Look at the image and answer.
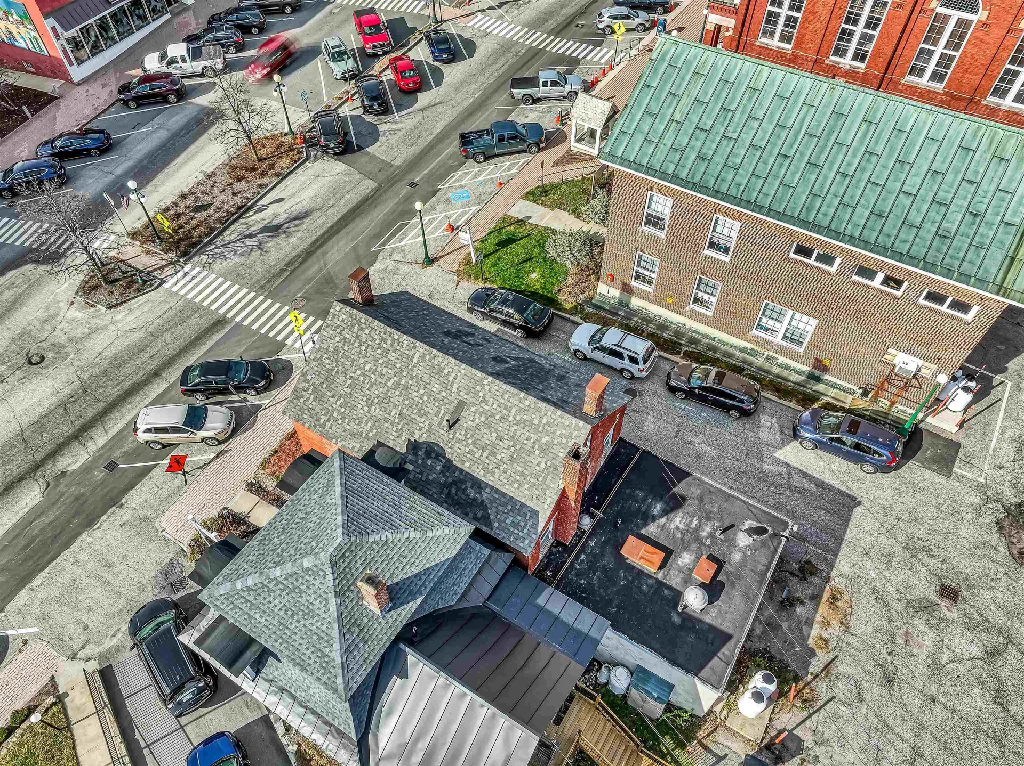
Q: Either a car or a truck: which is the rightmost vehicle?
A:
car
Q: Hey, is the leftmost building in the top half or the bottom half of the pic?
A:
top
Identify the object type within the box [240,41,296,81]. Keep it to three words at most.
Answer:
car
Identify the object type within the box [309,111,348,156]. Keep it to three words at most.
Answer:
car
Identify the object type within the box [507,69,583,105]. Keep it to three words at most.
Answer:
truck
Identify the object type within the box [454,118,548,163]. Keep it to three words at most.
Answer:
truck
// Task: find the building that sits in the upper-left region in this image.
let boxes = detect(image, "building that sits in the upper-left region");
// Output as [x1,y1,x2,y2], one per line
[0,0,190,83]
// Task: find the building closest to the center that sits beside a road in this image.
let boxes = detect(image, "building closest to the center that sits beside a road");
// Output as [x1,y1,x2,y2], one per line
[282,263,635,576]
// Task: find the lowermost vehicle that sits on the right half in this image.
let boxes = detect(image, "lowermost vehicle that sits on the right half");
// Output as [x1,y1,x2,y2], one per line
[792,407,909,477]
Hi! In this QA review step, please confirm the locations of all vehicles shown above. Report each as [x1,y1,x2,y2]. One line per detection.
[206,3,267,34]
[423,29,456,63]
[135,602,226,734]
[592,4,652,34]
[319,29,361,79]
[183,23,244,55]
[239,0,299,14]
[454,118,548,163]
[507,69,583,105]
[466,288,554,339]
[0,146,74,198]
[603,0,672,14]
[352,7,393,55]
[792,407,909,477]
[141,43,227,77]
[567,323,663,381]
[387,56,424,93]
[116,70,186,108]
[240,41,296,81]
[171,357,273,401]
[666,359,771,420]
[309,111,348,156]
[352,74,391,117]
[34,126,113,157]
[124,400,234,450]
